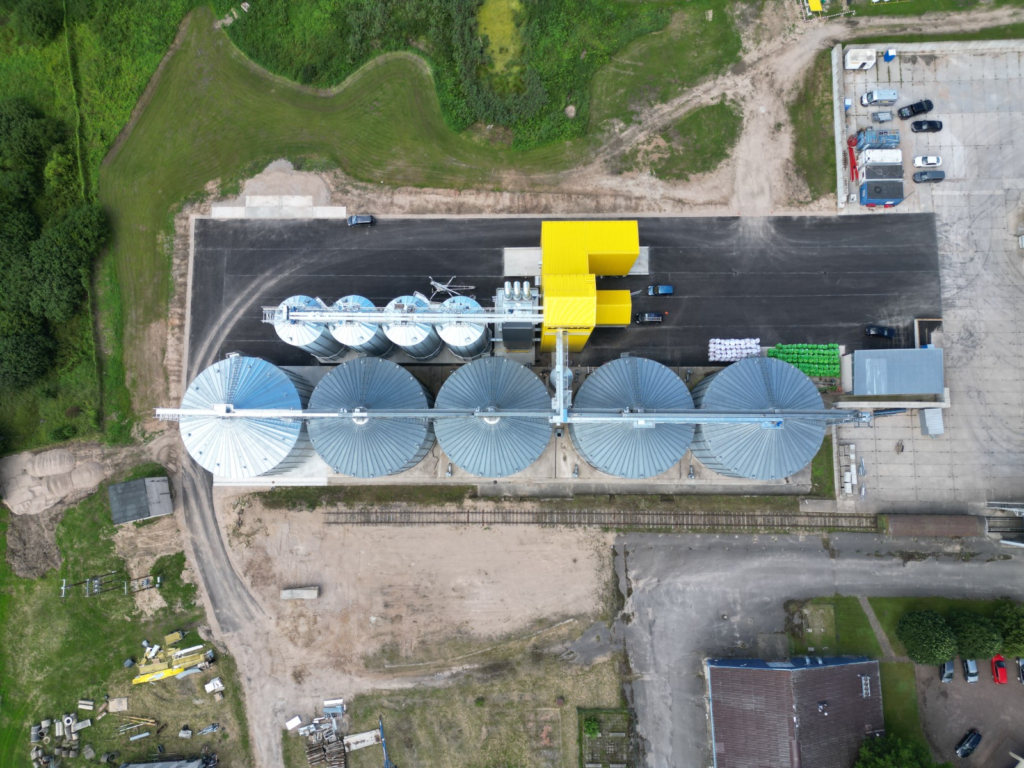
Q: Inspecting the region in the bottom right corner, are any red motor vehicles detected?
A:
Yes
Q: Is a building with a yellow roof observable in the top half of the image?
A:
Yes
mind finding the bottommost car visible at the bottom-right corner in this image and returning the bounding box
[954,728,985,760]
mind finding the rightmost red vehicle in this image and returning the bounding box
[990,654,1011,684]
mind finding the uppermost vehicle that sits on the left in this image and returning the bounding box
[347,213,375,227]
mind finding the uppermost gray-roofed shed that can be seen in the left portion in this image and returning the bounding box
[109,477,181,526]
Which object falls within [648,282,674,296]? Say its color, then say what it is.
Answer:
blue vehicle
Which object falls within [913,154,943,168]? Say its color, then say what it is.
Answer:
white car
